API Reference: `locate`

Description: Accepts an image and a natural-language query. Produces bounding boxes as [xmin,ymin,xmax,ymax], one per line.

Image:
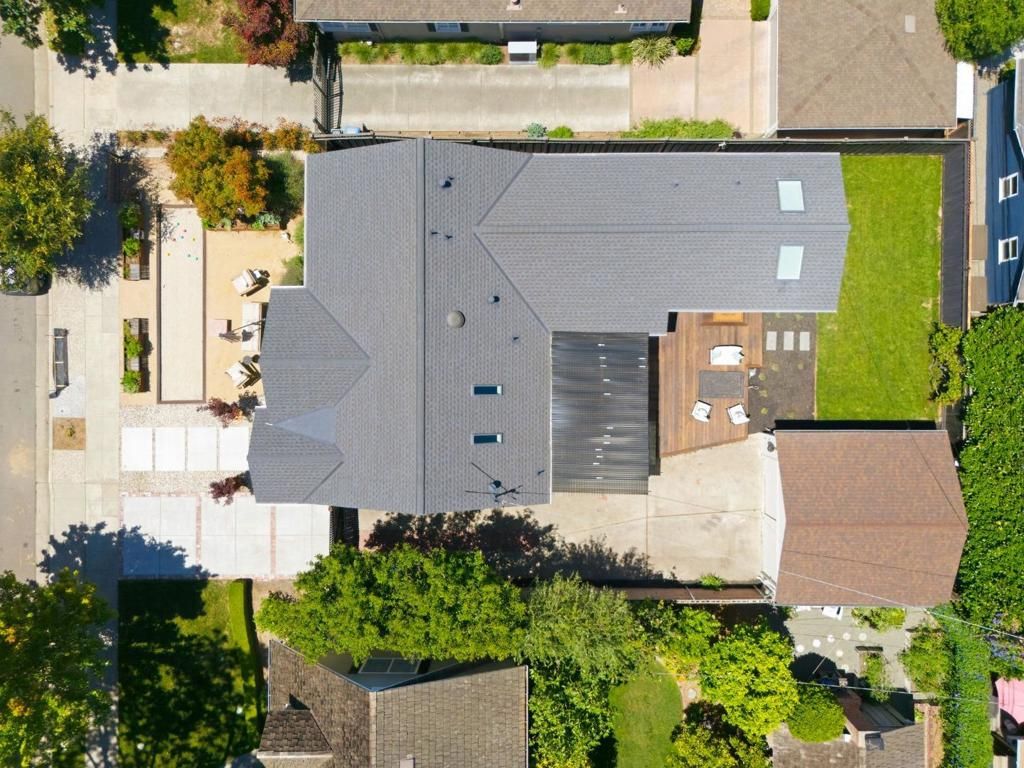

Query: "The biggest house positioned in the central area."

[247,139,850,514]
